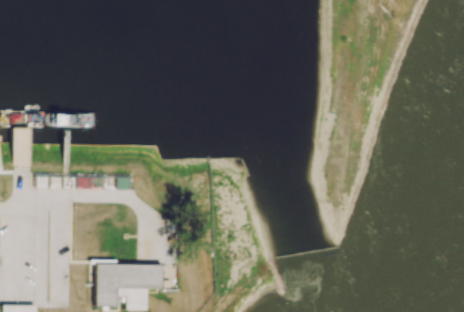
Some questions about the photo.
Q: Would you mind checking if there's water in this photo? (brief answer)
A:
Yes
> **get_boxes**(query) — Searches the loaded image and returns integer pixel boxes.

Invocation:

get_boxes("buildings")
[2,305,37,312]
[96,264,163,312]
